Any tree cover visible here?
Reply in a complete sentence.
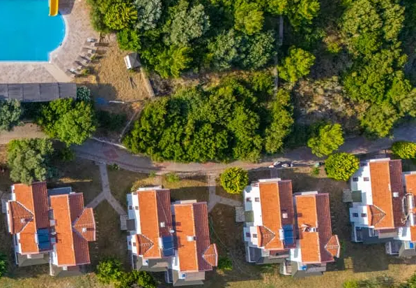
Yes, the picture does contain tree cover.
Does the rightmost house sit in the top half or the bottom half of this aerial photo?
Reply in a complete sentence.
Seen from above, the rightmost house lies in the bottom half of the view.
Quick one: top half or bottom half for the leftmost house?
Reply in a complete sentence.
The bottom half of the photo is where the leftmost house is.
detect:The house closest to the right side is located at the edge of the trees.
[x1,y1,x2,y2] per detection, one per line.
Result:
[337,157,416,255]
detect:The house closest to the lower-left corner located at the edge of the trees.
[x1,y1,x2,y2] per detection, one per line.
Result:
[0,182,94,277]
